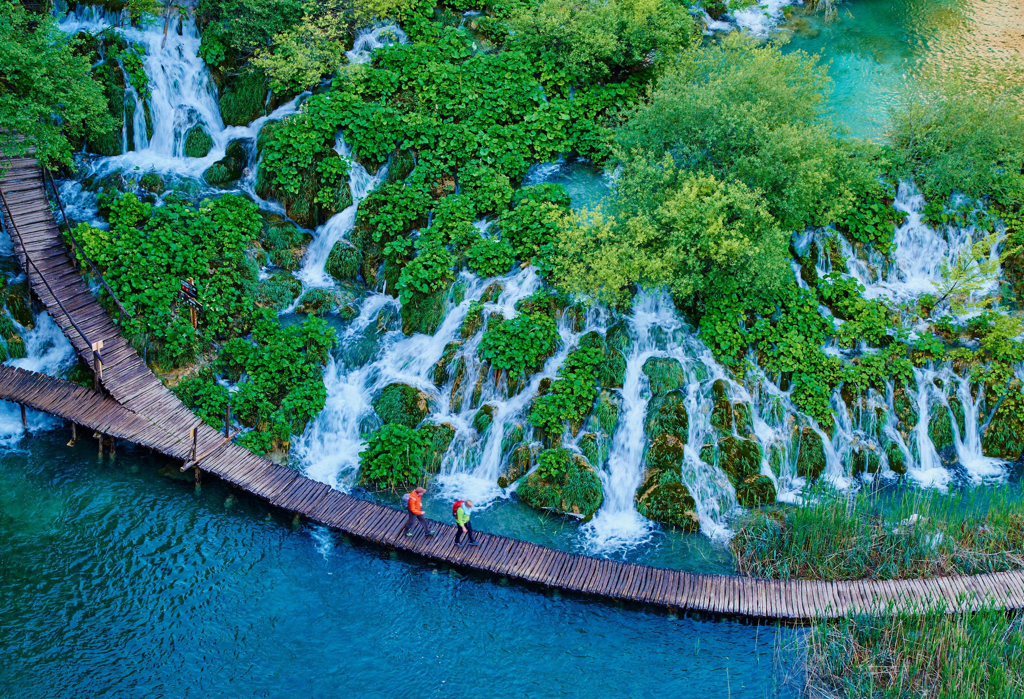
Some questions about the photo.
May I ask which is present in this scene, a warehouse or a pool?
pool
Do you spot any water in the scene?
Yes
